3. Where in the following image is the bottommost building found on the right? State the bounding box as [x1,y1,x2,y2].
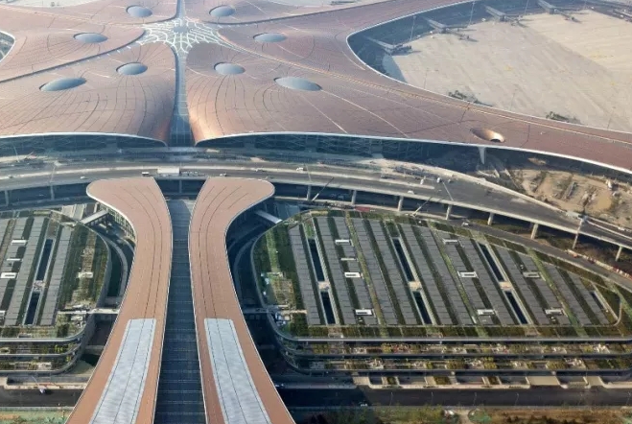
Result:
[250,208,632,375]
